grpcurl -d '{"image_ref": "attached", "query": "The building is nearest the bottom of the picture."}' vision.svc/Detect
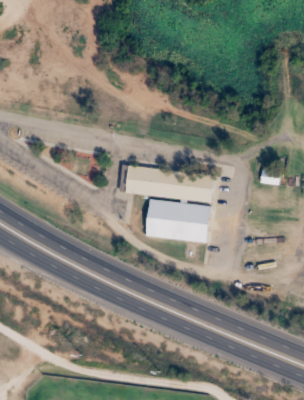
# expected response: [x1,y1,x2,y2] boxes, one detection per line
[146,200,214,243]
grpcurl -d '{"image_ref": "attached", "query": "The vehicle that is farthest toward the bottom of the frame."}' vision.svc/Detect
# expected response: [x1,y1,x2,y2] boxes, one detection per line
[232,278,272,292]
